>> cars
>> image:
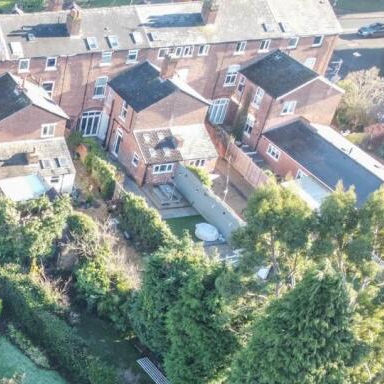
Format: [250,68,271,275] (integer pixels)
[358,21,384,39]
